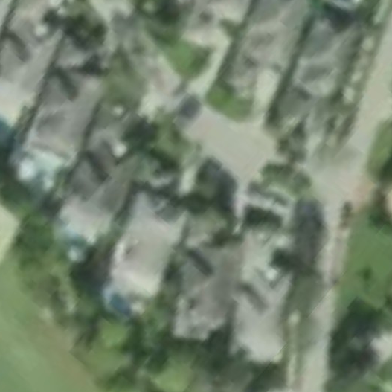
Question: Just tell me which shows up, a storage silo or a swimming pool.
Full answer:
Visible in the photo is a swimming pool.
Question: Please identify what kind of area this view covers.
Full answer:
This image shows a residential area.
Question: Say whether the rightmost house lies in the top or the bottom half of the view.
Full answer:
The top half of the photo is where the rightmost house is.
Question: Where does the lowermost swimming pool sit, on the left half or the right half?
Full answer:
It is on the left.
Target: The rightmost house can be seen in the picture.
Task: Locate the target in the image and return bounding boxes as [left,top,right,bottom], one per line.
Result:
[278,2,371,130]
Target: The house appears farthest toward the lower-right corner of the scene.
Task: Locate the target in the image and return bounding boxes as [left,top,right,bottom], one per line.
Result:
[230,257,295,362]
